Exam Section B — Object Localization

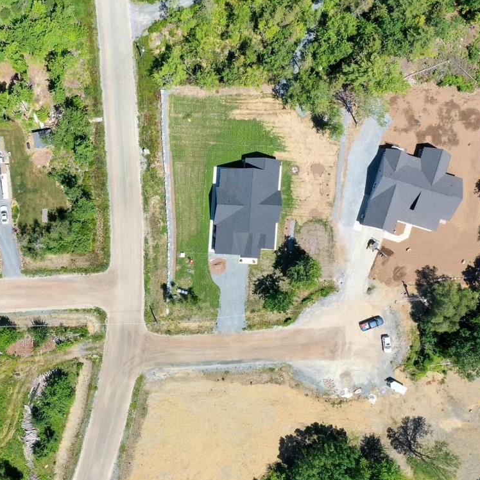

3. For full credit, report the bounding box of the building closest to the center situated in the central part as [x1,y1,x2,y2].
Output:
[213,157,283,263]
